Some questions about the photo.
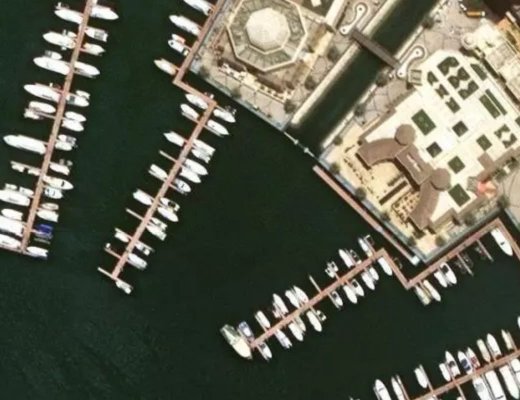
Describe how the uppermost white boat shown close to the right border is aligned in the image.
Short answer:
diagonally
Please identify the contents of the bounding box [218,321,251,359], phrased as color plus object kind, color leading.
white ship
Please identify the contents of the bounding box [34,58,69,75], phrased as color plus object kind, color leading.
white boat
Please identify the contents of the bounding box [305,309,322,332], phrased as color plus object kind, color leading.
white boat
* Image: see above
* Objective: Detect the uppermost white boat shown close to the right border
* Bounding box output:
[492,228,513,257]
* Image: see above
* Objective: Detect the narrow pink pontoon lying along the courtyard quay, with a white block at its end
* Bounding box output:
[313,166,420,262]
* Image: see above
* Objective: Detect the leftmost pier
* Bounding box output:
[10,0,111,259]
